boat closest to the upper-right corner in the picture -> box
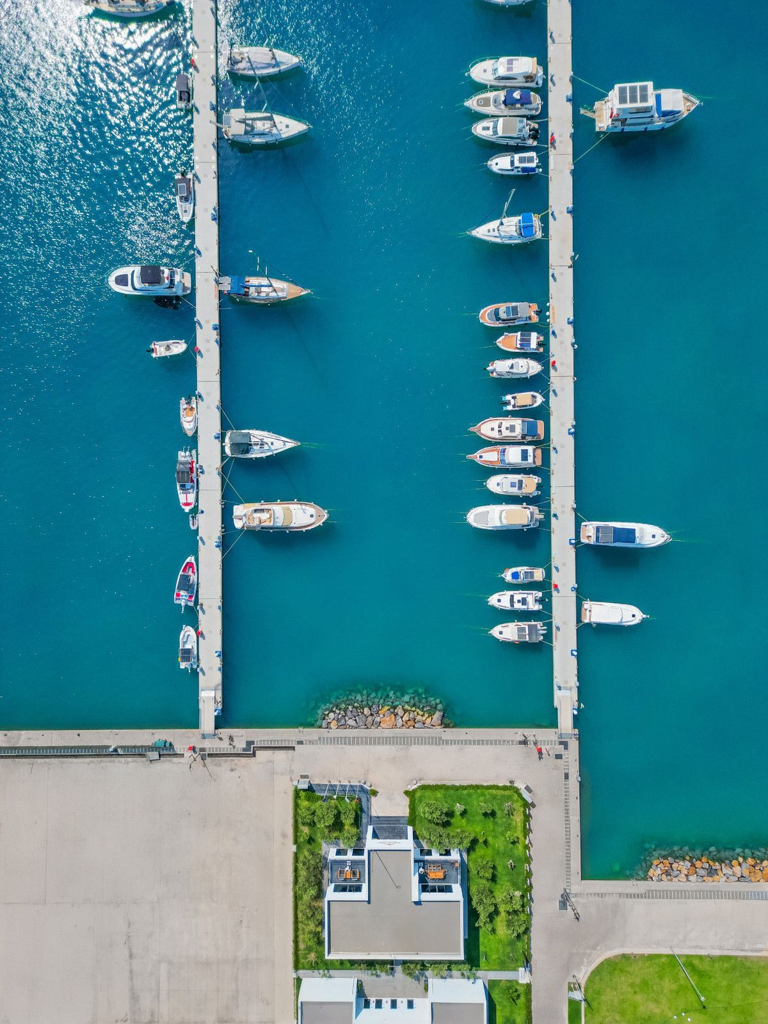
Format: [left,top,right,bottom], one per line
[571,79,724,157]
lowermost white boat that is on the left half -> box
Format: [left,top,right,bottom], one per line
[178,625,198,675]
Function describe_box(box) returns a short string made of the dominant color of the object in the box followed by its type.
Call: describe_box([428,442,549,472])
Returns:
white boat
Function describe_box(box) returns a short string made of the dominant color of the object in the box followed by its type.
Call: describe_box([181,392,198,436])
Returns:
white boat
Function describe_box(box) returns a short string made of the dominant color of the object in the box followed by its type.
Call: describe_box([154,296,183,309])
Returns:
black boat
